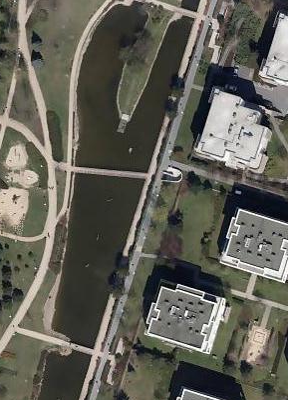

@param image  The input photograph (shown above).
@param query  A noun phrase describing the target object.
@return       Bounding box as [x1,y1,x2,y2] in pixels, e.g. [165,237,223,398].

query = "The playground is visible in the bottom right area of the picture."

[243,321,270,364]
